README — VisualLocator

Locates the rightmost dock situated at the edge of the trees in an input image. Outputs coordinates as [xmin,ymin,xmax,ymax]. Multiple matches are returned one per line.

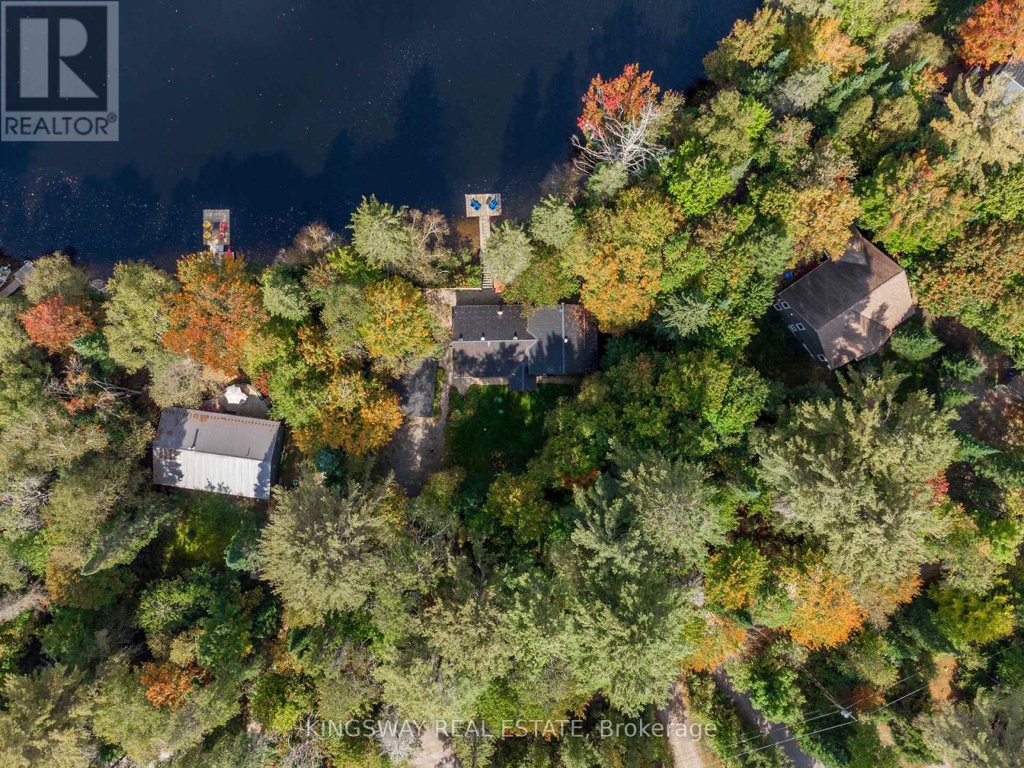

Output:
[466,194,501,269]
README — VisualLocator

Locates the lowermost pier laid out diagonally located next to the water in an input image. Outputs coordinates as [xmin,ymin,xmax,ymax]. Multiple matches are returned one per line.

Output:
[2,256,45,290]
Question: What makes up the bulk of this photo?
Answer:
trees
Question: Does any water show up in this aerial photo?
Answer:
Yes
